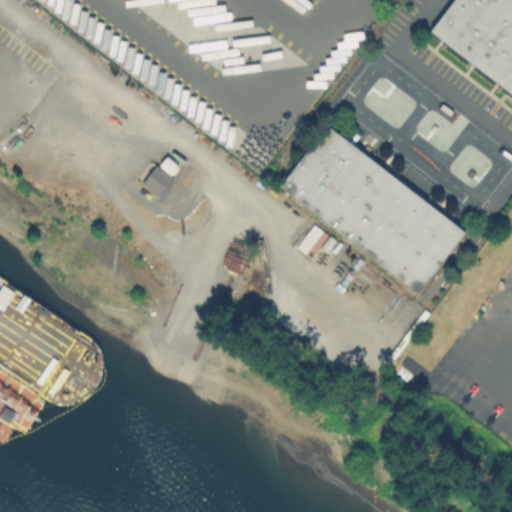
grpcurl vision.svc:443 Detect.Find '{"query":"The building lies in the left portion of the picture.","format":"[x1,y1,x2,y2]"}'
[145,156,181,196]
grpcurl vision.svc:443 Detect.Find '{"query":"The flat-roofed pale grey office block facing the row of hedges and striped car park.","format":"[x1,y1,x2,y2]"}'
[430,0,512,100]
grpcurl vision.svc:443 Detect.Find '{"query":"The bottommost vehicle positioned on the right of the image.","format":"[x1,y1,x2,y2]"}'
[487,406,503,423]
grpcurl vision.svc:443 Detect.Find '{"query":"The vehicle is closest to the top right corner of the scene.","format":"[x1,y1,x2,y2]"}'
[440,104,455,118]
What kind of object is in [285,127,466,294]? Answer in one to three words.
warehouse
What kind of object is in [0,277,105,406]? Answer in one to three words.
ship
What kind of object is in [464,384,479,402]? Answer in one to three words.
vehicle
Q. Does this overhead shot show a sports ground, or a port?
port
